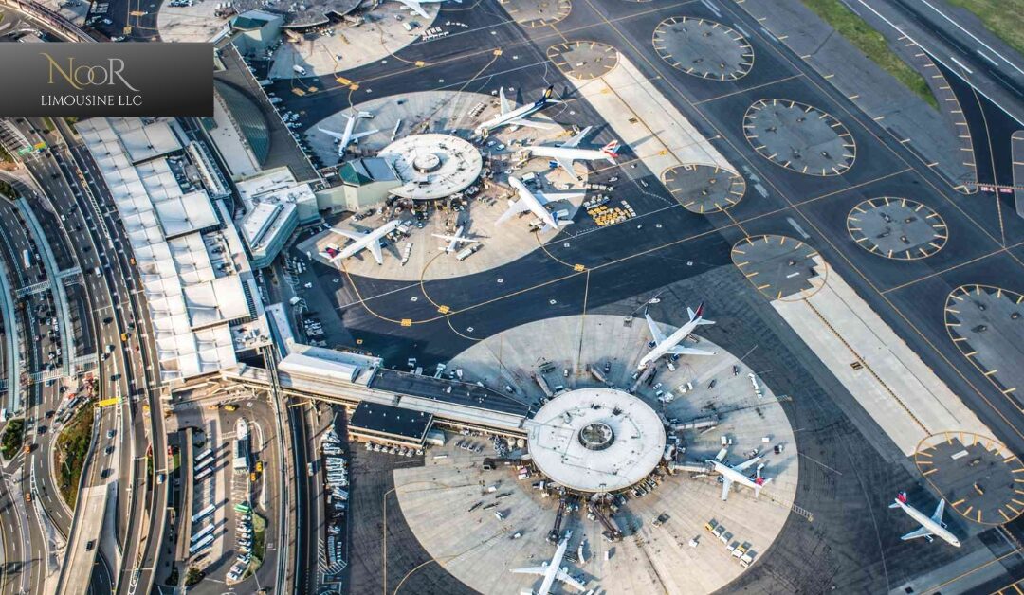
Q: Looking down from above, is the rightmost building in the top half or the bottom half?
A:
bottom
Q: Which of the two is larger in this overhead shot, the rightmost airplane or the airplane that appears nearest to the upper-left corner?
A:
the rightmost airplane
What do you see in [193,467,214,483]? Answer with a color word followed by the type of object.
white vehicle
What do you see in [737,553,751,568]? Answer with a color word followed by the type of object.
white vehicle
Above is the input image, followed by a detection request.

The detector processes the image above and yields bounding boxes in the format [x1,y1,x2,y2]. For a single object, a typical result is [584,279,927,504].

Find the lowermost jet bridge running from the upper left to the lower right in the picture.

[588,497,621,541]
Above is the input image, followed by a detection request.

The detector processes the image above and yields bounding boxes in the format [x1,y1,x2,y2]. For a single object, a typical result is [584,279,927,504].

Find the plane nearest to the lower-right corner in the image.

[886,489,961,548]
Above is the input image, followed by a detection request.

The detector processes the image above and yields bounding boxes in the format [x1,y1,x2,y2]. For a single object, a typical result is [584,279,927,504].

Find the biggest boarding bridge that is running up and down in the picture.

[551,486,567,542]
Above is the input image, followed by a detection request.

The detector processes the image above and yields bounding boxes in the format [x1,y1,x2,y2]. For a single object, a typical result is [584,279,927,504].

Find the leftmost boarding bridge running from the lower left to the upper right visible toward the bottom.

[628,362,656,397]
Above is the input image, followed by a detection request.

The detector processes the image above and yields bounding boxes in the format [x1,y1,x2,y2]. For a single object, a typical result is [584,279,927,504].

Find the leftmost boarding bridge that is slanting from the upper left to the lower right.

[283,28,302,45]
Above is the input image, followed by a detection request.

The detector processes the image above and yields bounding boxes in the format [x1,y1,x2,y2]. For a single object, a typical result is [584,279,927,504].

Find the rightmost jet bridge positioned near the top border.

[344,13,363,27]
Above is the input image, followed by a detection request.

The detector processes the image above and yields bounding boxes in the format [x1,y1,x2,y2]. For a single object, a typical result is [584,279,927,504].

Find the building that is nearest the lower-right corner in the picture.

[522,388,665,497]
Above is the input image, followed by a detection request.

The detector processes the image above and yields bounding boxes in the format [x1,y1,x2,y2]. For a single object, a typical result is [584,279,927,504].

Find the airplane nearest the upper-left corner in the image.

[318,102,379,156]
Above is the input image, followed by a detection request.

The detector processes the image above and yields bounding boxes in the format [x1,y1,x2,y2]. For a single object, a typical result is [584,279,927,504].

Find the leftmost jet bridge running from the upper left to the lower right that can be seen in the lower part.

[529,372,557,399]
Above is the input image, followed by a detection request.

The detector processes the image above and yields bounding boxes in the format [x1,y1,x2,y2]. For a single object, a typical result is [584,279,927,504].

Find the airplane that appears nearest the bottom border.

[515,531,589,595]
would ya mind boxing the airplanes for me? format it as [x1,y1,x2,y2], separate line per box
[515,531,589,595]
[639,302,722,368]
[523,124,626,177]
[707,459,774,502]
[433,229,477,253]
[317,219,400,265]
[318,102,379,156]
[476,80,564,134]
[886,489,961,548]
[495,174,582,230]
